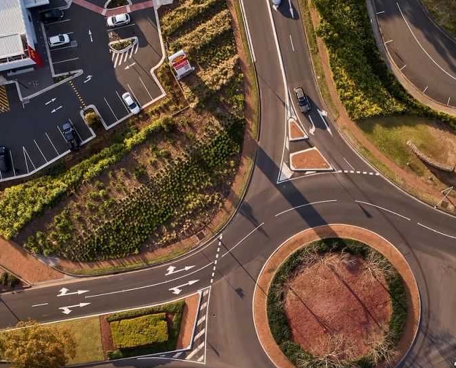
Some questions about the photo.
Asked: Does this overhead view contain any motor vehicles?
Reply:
Yes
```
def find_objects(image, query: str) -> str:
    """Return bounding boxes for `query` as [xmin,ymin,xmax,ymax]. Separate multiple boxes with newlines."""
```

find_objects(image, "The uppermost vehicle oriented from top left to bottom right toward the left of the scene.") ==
[120,90,140,116]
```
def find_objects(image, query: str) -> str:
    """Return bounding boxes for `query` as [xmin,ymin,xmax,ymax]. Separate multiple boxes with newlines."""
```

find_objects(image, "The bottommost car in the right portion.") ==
[293,85,309,113]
